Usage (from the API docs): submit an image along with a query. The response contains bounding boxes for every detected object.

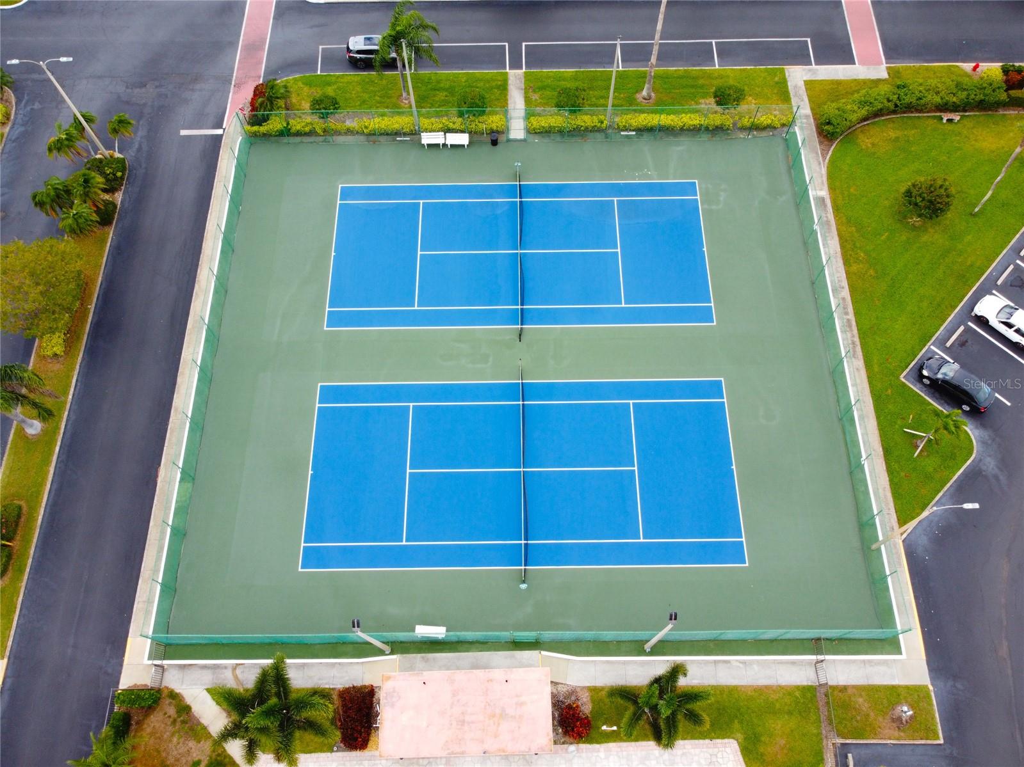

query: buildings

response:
[379,666,554,762]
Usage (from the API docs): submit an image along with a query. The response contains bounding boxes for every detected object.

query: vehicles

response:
[919,352,1002,412]
[346,33,398,68]
[969,294,1024,352]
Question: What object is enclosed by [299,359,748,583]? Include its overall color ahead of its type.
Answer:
blue tennis court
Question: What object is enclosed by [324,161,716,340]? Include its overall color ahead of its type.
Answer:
blue tennis court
